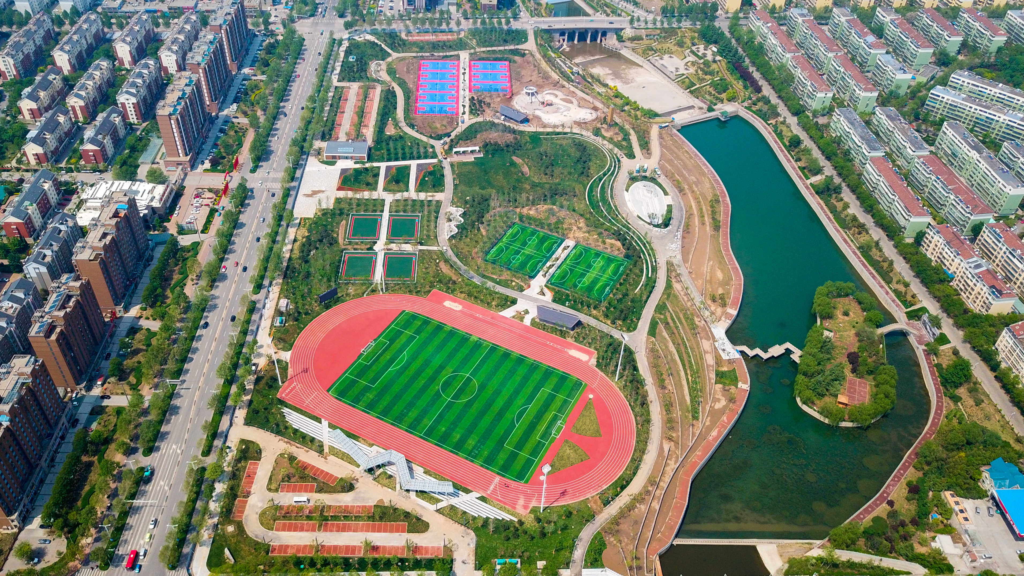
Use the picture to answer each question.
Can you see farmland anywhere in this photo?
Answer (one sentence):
No, the picture contains no farmland.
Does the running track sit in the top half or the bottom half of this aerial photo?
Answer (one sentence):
The bottom half of the photo is where the running track is.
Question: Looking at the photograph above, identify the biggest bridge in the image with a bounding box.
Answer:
[522,16,632,42]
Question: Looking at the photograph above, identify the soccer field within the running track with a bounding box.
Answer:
[321,306,590,487]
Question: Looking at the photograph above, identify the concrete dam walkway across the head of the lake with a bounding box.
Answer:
[671,107,742,129]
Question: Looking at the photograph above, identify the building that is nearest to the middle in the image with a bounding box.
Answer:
[537,305,580,332]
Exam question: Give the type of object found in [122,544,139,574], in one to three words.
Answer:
vehicle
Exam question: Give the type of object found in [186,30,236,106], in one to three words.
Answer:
building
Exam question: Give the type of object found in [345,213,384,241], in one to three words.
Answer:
sports court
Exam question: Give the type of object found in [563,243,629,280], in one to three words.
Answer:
soccer field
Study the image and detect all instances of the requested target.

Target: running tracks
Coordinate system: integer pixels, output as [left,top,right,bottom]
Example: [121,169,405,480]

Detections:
[272,289,634,515]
